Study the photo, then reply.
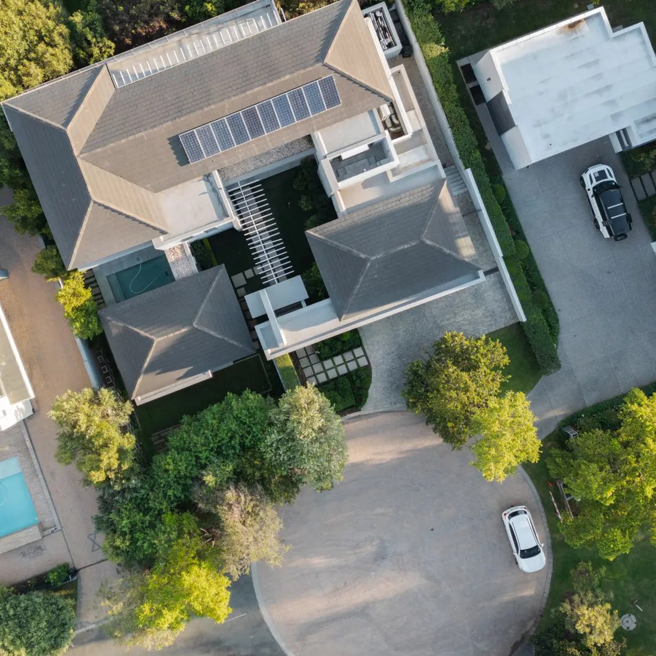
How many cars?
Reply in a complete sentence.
The number of cars here is 2.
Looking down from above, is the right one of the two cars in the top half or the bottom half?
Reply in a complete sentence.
You can find the right one of the two cars in the top half.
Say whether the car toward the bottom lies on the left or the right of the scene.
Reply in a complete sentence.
The car toward the bottom sits on the right side.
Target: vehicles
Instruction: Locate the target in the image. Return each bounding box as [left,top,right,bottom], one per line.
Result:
[501,504,544,573]
[580,164,634,240]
